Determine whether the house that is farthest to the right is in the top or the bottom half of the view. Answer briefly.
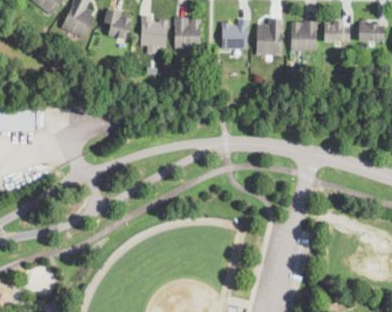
top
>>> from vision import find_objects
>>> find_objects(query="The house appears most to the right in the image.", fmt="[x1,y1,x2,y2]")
[360,18,386,48]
